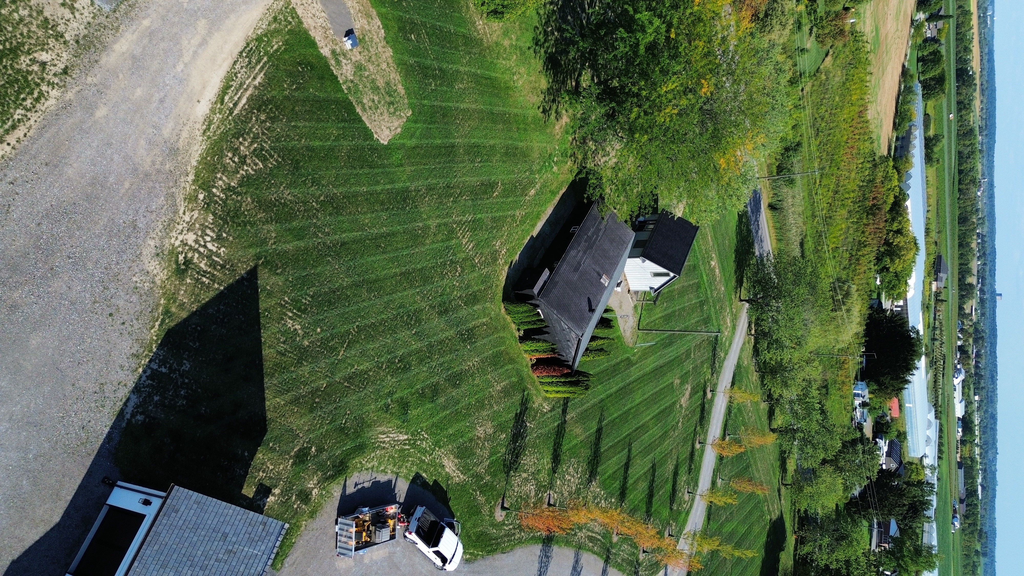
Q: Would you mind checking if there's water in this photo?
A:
No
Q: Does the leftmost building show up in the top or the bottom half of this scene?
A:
bottom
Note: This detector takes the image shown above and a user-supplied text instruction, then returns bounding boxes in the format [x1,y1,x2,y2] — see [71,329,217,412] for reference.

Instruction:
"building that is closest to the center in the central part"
[506,197,636,373]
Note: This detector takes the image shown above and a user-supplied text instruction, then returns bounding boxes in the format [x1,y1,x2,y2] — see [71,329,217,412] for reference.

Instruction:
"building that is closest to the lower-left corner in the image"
[54,480,278,576]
